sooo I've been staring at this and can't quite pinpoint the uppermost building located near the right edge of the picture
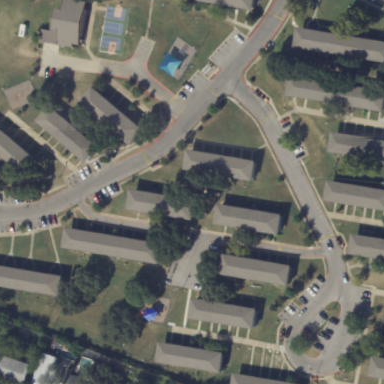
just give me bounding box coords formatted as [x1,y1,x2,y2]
[292,27,384,60]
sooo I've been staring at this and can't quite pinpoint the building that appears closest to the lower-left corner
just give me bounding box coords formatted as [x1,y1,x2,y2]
[0,356,29,379]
